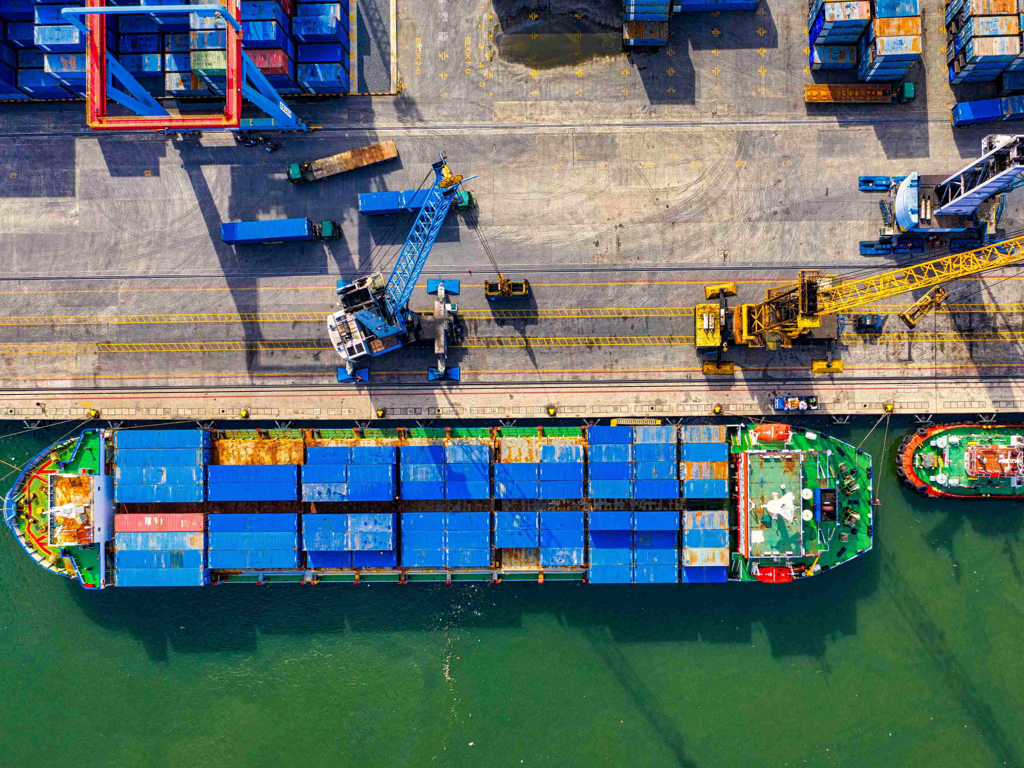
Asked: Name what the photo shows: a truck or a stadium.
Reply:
truck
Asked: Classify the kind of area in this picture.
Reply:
port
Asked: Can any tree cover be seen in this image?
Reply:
No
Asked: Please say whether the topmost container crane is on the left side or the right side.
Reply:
left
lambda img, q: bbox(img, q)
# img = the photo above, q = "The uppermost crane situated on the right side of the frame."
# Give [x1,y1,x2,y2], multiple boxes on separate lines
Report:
[856,124,1024,256]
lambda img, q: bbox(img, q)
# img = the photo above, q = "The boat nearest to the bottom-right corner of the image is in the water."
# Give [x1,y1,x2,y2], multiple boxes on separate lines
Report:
[896,421,1024,501]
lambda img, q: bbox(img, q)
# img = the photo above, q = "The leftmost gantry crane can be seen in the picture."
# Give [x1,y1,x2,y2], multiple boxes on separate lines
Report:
[66,0,324,135]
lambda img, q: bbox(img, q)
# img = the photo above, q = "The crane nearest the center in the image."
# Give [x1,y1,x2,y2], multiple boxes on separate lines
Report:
[328,133,497,382]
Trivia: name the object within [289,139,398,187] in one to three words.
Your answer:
truck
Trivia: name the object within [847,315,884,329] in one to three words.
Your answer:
work vehicle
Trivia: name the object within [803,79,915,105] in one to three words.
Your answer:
truck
